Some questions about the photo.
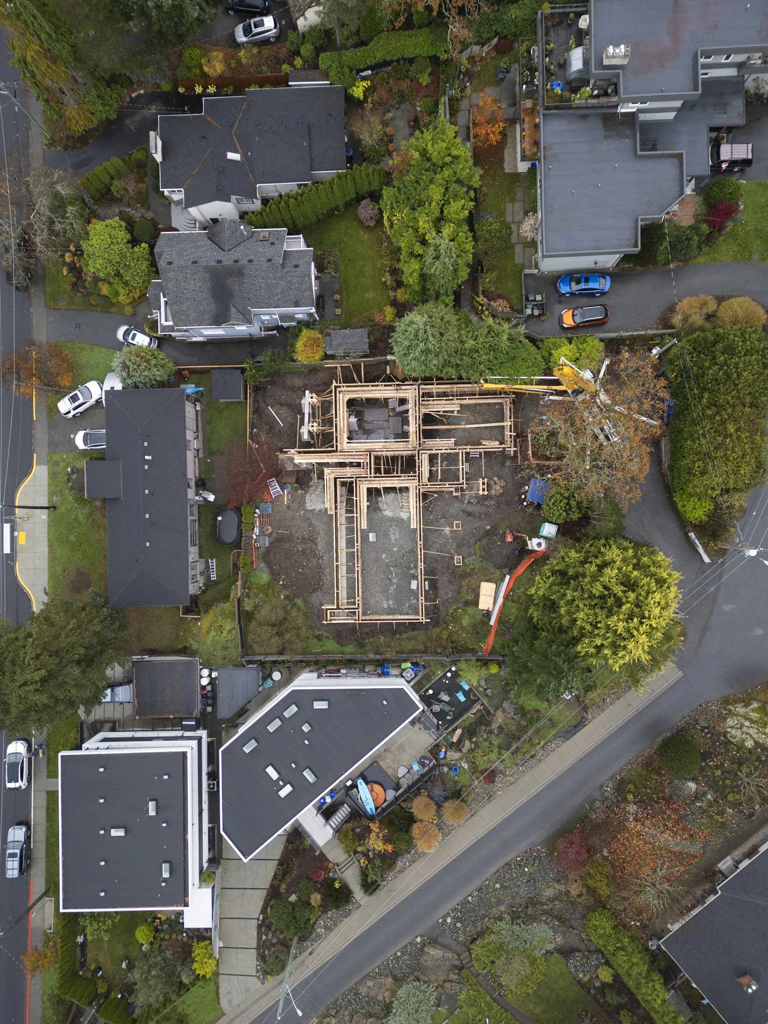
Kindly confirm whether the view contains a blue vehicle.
Yes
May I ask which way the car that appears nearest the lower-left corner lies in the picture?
up and down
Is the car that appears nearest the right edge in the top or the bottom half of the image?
top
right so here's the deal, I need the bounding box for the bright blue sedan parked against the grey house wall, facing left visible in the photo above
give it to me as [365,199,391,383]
[555,271,611,299]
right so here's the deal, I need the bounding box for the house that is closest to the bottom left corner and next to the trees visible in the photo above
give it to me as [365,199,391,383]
[59,721,218,928]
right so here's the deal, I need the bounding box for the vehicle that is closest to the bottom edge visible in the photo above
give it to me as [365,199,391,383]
[4,819,34,880]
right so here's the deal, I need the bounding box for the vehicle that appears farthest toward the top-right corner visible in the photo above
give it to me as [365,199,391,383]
[709,143,757,173]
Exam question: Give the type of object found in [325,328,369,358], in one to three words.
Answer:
shed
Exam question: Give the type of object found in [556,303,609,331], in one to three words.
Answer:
car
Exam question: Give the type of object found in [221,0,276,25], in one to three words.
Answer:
car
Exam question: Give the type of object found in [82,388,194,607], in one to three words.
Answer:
house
